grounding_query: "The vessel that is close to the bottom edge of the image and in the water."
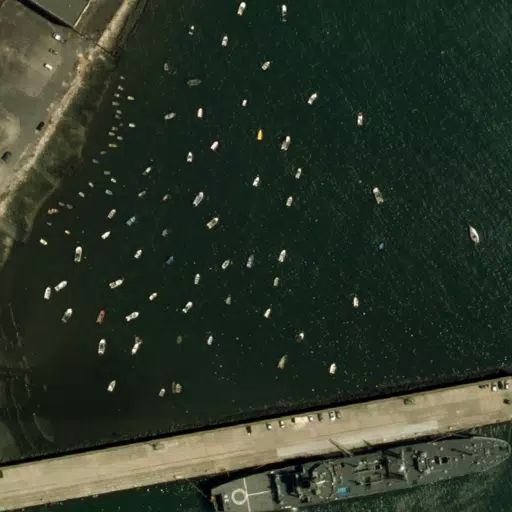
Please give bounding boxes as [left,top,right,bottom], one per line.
[209,438,510,512]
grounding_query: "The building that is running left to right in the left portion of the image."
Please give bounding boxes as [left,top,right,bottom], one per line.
[31,0,94,28]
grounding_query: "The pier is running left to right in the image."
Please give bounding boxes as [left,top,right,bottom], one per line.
[0,376,512,510]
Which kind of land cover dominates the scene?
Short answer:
water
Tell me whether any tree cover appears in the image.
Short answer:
No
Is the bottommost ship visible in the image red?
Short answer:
No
